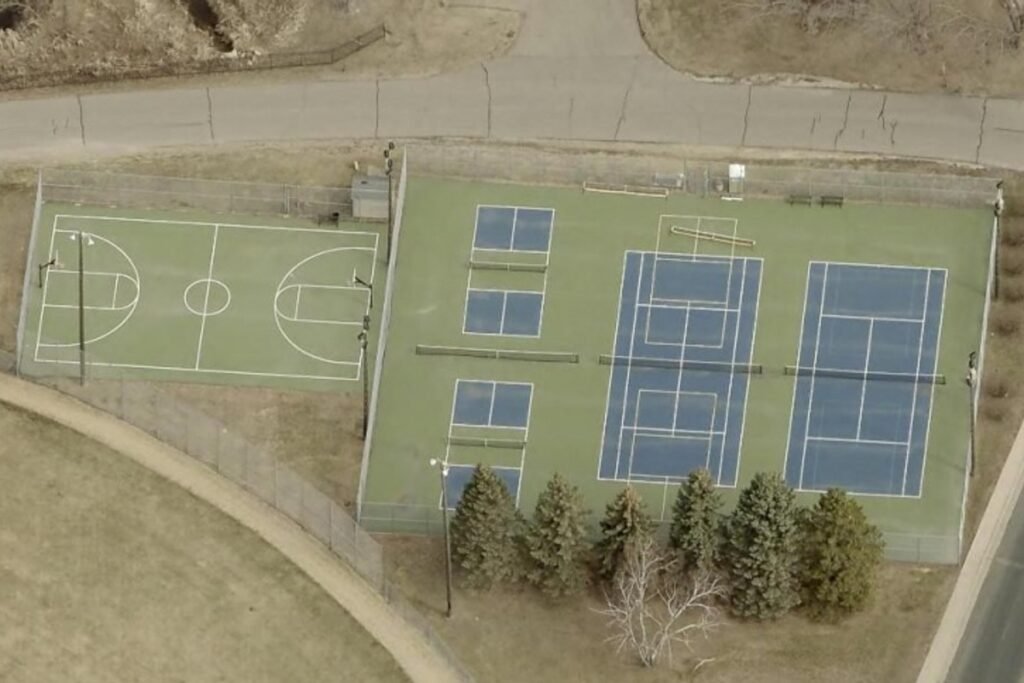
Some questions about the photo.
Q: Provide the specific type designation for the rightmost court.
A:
tennis court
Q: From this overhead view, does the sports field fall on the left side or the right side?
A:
left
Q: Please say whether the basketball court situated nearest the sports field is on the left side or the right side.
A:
left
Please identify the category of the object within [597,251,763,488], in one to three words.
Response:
tennis court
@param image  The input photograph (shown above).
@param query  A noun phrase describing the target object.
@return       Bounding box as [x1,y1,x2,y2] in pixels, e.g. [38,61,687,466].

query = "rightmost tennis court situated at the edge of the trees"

[782,261,947,498]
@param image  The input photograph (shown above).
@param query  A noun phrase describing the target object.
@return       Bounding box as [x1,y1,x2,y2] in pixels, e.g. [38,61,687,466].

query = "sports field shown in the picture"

[0,370,463,683]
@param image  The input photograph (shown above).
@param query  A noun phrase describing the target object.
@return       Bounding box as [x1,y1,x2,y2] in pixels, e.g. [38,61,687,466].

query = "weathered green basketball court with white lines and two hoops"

[21,203,396,391]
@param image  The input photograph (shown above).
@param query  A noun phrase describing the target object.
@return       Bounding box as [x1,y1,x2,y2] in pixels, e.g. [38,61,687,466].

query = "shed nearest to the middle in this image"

[350,177,392,219]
